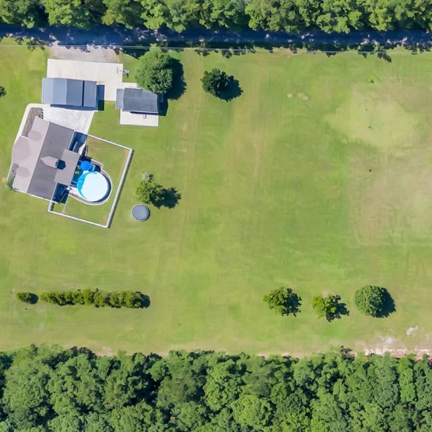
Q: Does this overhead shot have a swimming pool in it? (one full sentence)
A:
Yes, the picture does show a swimming pool.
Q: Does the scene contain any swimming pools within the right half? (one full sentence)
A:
No, there is no swimming pool within the right half.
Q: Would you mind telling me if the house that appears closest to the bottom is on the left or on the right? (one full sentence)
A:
It is on the left.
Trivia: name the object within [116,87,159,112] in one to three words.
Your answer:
shed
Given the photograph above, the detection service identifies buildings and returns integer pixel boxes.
[40,77,99,107]
[12,118,84,200]
[116,87,159,112]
